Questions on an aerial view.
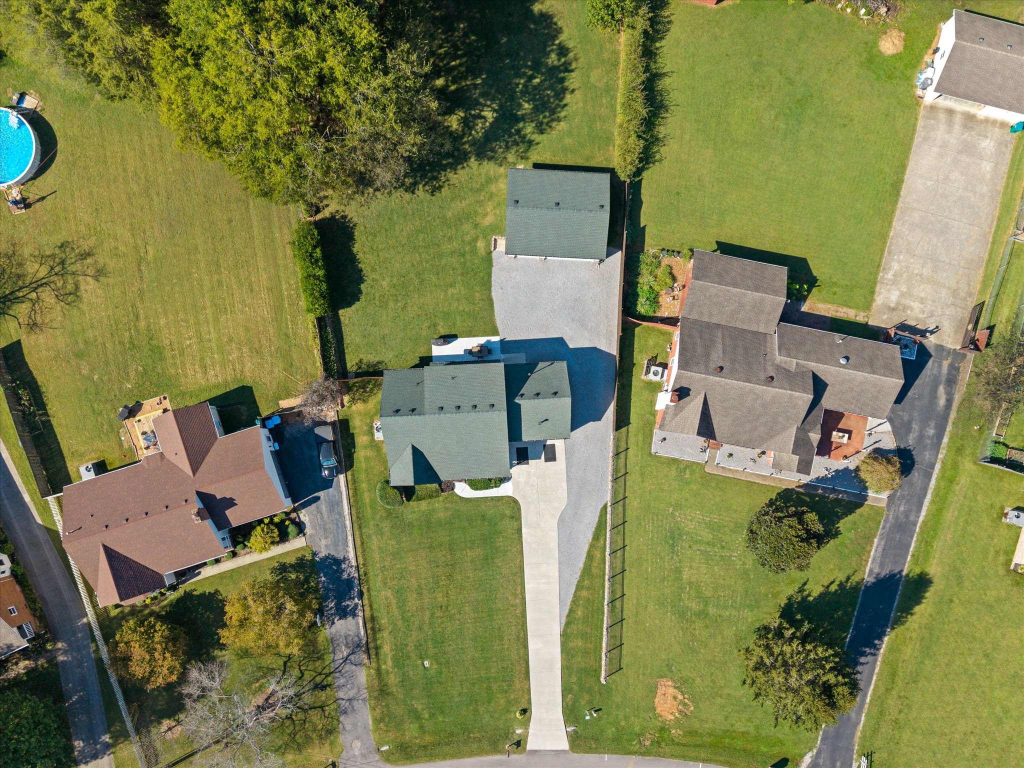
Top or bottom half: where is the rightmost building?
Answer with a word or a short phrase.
top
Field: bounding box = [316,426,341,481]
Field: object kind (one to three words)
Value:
truck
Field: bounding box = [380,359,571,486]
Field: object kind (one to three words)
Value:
house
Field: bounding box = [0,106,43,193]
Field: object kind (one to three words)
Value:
swimming pool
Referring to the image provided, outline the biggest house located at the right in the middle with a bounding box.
[651,249,902,476]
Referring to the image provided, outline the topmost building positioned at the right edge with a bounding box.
[920,8,1024,126]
